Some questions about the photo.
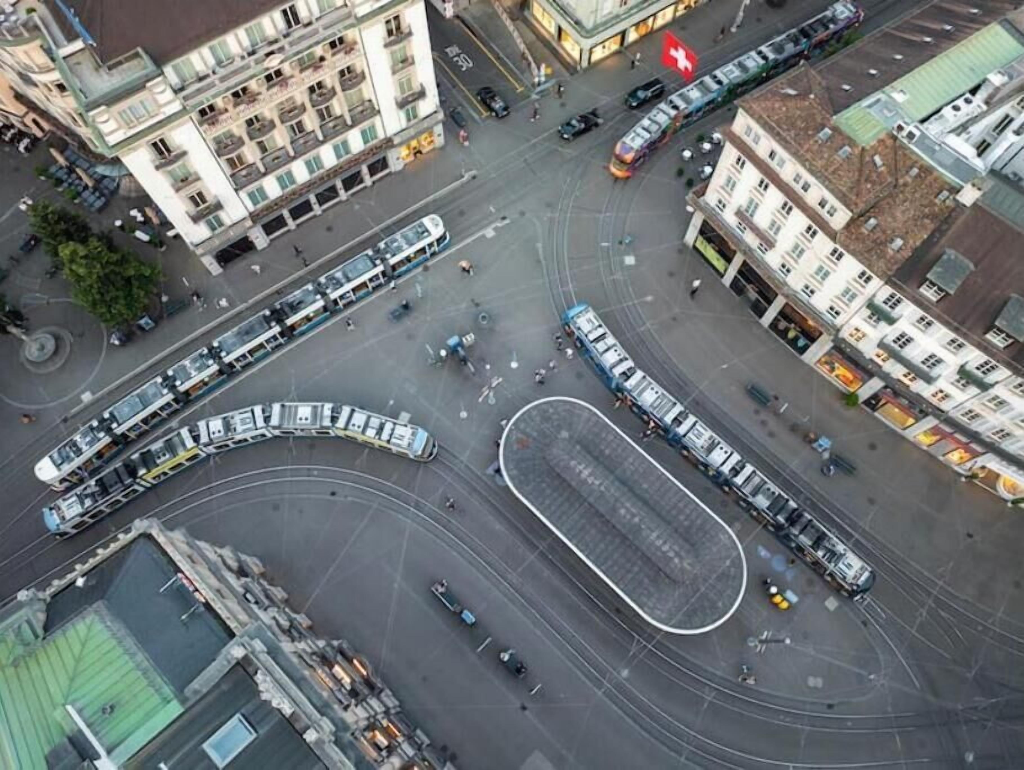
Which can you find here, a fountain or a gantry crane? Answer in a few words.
fountain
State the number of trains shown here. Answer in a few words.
4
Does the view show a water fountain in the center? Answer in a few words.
No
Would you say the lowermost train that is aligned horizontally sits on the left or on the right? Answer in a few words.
left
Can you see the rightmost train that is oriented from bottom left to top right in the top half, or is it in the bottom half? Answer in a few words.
top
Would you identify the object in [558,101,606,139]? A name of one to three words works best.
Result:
car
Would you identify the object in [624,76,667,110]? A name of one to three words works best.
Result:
car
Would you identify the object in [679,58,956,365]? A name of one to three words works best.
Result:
house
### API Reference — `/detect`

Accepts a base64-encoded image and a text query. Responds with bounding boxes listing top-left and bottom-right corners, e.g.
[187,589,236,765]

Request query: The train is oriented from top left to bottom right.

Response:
[560,308,871,590]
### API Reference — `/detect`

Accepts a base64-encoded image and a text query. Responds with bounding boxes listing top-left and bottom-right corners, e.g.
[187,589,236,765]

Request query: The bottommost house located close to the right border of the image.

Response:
[910,380,1024,516]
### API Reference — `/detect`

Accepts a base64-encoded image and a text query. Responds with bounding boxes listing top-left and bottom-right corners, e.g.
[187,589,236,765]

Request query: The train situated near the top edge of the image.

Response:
[609,4,859,188]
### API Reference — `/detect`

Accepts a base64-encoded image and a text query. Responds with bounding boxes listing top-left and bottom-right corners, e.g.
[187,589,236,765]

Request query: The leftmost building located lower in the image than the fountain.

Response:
[0,511,462,770]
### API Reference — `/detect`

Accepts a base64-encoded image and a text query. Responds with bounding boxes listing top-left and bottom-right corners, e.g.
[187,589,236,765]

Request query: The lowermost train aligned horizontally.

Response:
[58,400,441,533]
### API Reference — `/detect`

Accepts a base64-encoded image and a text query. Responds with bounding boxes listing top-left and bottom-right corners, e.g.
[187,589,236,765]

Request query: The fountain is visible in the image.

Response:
[5,324,68,371]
